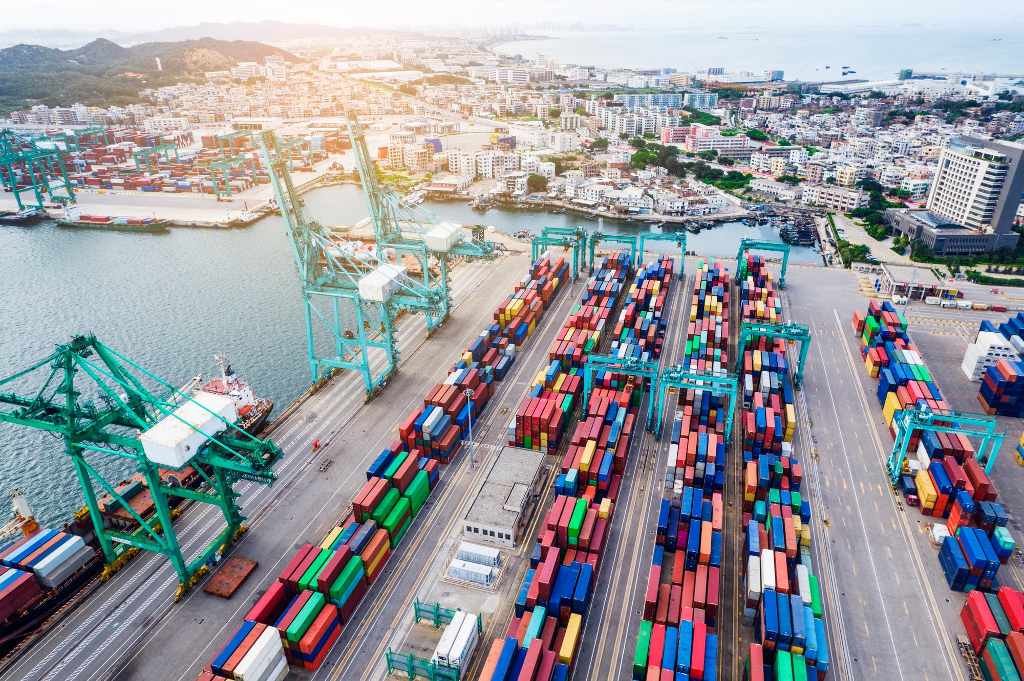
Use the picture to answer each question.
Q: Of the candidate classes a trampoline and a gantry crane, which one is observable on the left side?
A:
gantry crane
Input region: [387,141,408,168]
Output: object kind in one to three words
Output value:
building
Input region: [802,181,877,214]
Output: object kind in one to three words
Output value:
building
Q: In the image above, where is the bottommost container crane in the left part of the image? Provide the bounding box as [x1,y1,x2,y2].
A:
[0,317,284,603]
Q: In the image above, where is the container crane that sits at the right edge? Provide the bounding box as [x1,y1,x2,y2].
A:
[883,403,1002,488]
